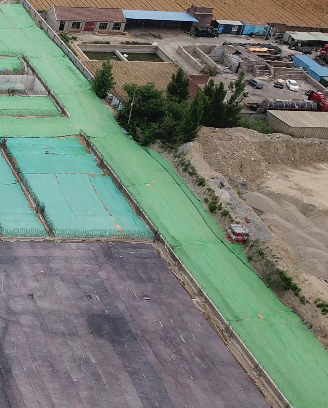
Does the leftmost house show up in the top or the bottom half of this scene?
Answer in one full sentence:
It is in the top half that the leftmost house appears.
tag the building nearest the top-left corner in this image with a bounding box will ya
[46,1,130,37]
